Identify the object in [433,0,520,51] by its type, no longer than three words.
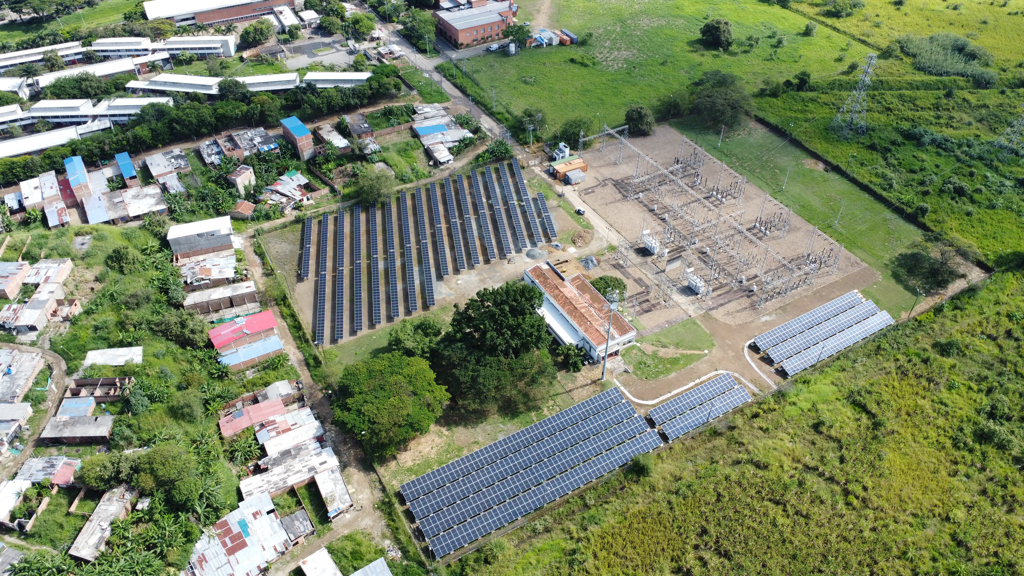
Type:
building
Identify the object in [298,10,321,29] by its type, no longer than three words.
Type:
house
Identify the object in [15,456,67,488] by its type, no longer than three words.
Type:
shed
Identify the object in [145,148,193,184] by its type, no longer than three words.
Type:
house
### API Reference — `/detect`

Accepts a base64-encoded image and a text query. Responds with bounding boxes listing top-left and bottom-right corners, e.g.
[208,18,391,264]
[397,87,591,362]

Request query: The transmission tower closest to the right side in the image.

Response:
[978,81,1024,156]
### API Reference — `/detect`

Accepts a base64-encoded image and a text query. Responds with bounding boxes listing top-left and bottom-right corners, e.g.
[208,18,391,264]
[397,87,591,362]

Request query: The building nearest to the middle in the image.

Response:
[524,260,637,367]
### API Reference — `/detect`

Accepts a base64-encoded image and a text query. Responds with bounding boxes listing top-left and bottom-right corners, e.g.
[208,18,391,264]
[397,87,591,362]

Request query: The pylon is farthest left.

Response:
[829,53,883,138]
